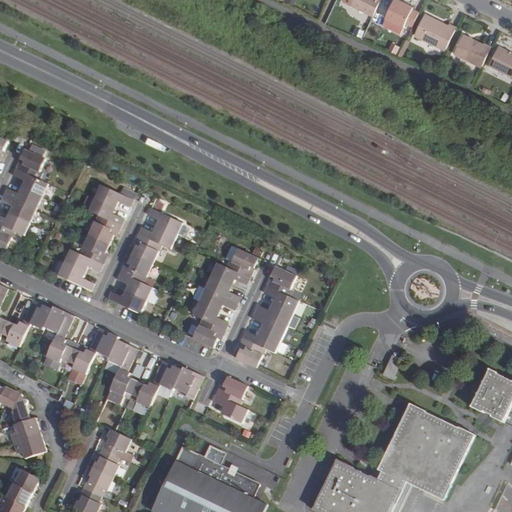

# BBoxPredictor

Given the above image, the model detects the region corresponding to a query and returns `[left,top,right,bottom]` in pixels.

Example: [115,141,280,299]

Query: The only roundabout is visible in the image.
[390,254,462,326]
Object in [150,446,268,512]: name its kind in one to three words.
building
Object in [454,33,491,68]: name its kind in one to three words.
house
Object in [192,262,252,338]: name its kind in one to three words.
house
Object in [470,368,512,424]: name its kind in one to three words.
building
